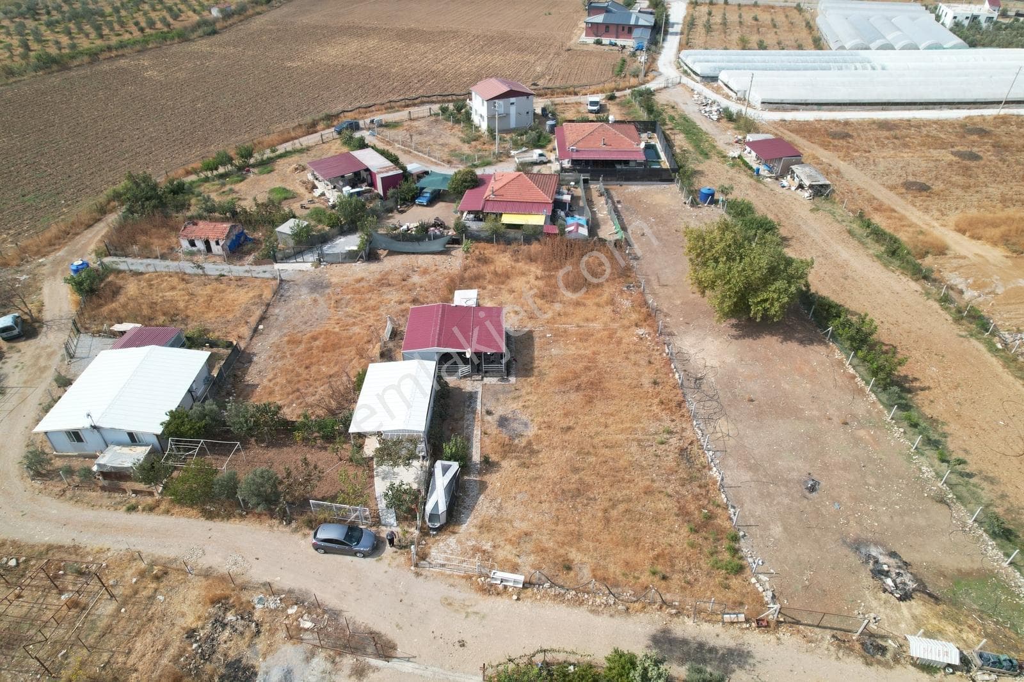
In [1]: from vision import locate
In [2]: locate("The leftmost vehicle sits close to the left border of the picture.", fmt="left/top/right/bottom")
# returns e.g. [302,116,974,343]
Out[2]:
[0,316,24,338]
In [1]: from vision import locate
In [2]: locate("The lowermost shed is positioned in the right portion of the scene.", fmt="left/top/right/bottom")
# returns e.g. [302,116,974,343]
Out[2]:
[903,625,969,672]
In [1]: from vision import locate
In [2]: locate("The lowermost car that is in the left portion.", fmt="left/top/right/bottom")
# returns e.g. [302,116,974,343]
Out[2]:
[307,525,378,561]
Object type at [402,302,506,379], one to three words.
house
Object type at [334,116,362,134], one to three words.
car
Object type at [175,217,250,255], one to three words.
shed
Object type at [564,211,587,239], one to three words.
shed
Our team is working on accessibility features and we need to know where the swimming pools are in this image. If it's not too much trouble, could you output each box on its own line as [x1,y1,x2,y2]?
[641,141,669,169]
